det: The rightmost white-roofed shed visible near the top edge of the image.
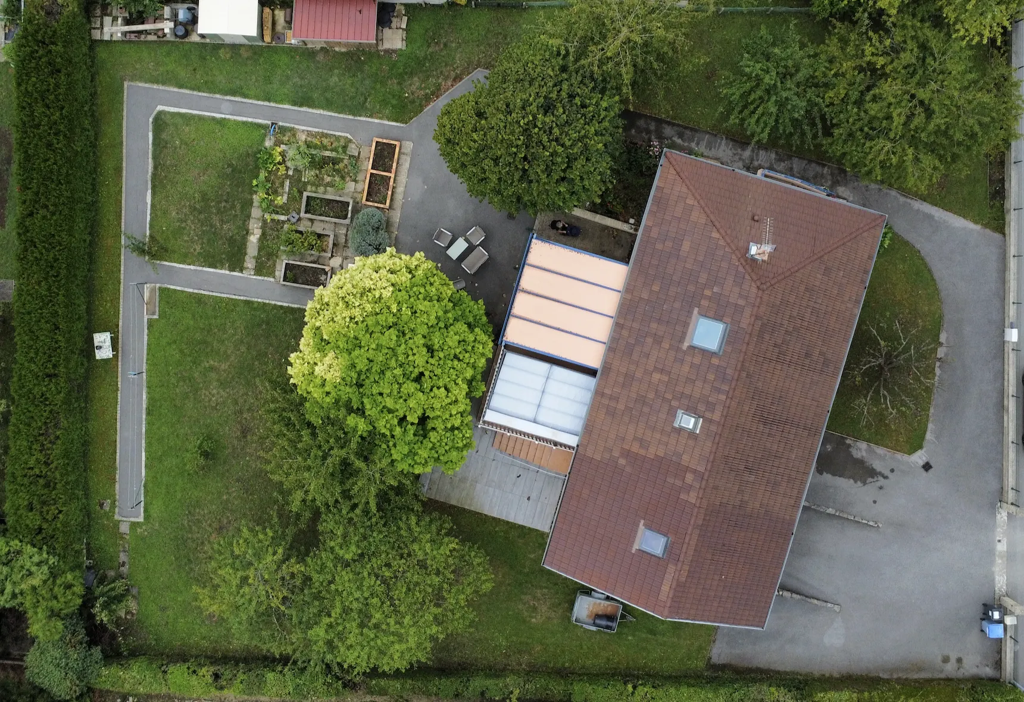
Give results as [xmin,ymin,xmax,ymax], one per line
[198,0,264,45]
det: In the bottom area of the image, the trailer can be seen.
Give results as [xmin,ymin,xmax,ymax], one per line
[571,593,639,638]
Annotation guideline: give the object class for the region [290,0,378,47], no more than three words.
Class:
shed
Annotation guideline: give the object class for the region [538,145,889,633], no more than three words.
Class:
house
